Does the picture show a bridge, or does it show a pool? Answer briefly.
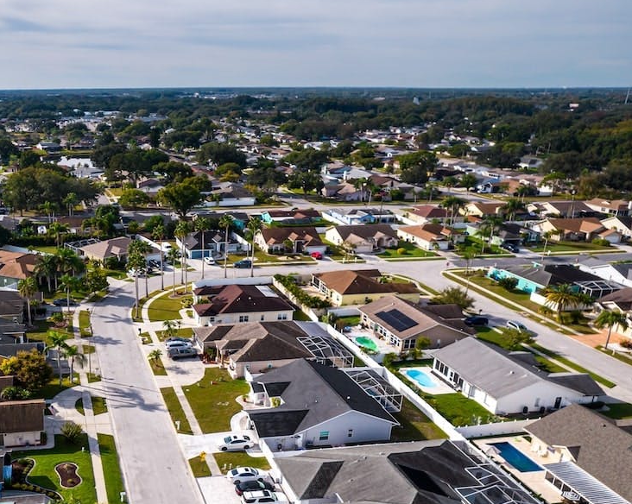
pool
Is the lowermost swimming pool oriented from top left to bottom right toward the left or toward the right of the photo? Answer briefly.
right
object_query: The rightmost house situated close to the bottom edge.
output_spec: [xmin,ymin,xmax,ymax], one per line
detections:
[523,410,632,504]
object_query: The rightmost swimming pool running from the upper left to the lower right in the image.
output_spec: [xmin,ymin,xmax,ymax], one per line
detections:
[485,439,538,474]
